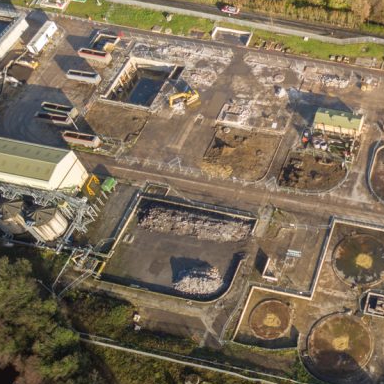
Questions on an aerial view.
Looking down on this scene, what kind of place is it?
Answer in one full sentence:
The picture captures an industrial area.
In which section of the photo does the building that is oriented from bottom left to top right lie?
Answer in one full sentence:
Look in the top left portion of the view to spot the building that is oriented from bottom left to top right.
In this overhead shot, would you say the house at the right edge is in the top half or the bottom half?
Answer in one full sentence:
The house at the right edge is in the top half of the image.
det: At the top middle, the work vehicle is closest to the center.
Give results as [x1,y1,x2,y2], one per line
[166,90,202,109]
